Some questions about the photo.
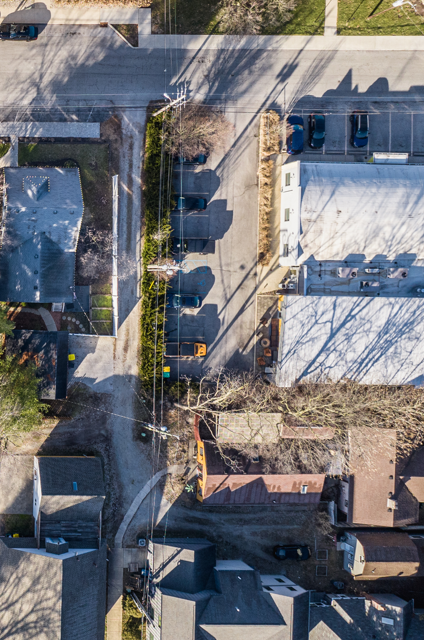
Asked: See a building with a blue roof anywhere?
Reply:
Yes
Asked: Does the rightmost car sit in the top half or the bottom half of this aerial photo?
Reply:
top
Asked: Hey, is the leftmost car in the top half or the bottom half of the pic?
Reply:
top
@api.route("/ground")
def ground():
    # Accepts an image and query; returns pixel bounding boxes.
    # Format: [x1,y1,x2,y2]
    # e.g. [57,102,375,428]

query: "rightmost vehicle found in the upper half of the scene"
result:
[349,109,370,147]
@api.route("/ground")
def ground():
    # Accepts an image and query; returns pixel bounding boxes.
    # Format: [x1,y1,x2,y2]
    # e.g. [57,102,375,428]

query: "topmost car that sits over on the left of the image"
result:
[0,22,38,42]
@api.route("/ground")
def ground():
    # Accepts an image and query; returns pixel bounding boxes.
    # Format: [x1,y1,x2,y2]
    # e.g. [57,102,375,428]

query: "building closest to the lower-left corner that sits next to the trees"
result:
[0,532,107,640]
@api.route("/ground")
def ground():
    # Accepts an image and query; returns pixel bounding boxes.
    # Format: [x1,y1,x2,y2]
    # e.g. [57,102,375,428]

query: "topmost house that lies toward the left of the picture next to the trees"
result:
[0,167,84,303]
